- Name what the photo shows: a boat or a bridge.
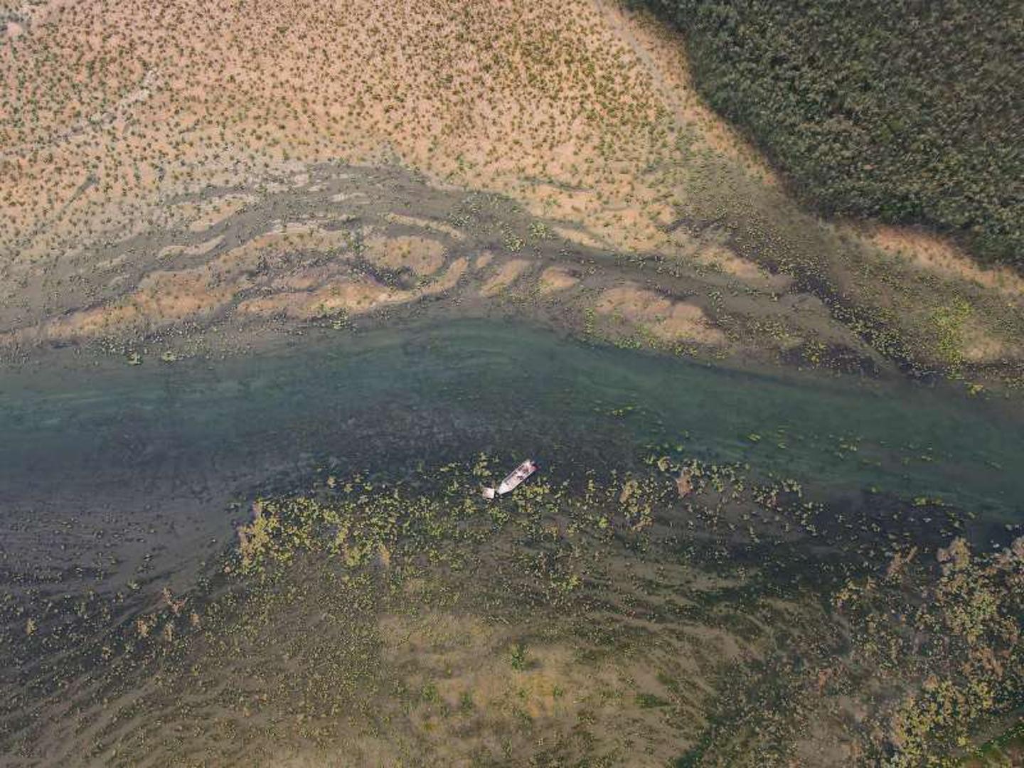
boat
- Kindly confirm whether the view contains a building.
No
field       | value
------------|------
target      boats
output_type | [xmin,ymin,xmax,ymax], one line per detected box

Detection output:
[497,461,537,496]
